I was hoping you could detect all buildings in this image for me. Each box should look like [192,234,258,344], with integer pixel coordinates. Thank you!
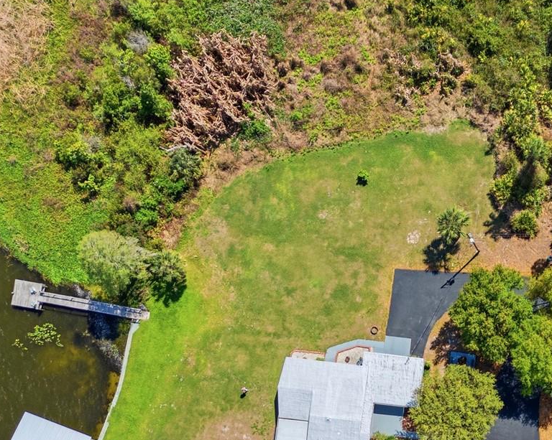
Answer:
[11,412,100,440]
[276,352,424,440]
